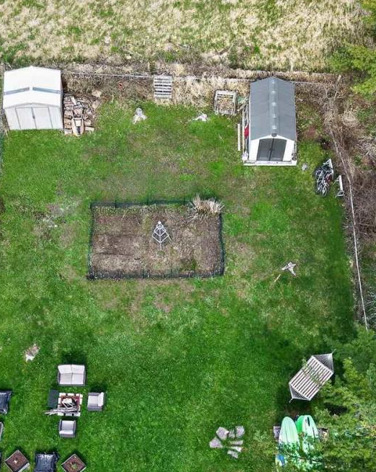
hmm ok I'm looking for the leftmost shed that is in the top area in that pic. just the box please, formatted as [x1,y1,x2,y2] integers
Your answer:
[1,66,65,131]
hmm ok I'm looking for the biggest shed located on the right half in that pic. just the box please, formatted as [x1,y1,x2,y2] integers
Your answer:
[244,75,301,166]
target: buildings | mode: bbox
[1,66,65,131]
[244,75,301,166]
